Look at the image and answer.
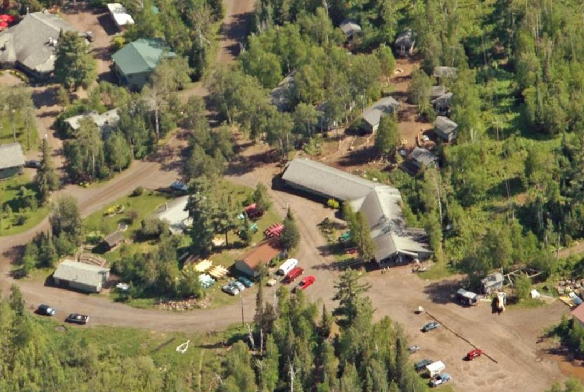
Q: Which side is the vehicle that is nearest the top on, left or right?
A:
left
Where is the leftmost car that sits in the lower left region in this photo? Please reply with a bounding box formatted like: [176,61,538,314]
[36,304,57,316]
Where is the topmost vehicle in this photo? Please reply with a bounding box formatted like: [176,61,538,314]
[110,4,132,28]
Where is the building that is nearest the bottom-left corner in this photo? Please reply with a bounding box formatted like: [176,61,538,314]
[54,256,115,292]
